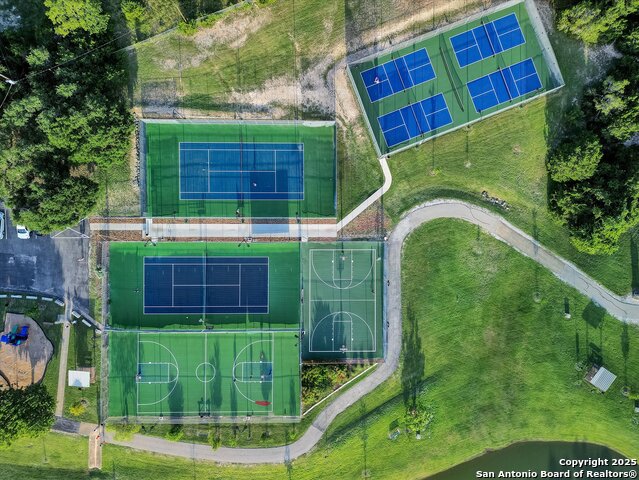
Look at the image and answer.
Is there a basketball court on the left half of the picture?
Yes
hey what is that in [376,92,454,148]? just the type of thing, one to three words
sports court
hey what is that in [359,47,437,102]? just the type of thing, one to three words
sports court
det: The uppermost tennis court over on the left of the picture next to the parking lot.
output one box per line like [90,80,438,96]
[147,124,336,216]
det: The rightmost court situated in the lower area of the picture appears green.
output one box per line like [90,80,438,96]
[302,243,384,361]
